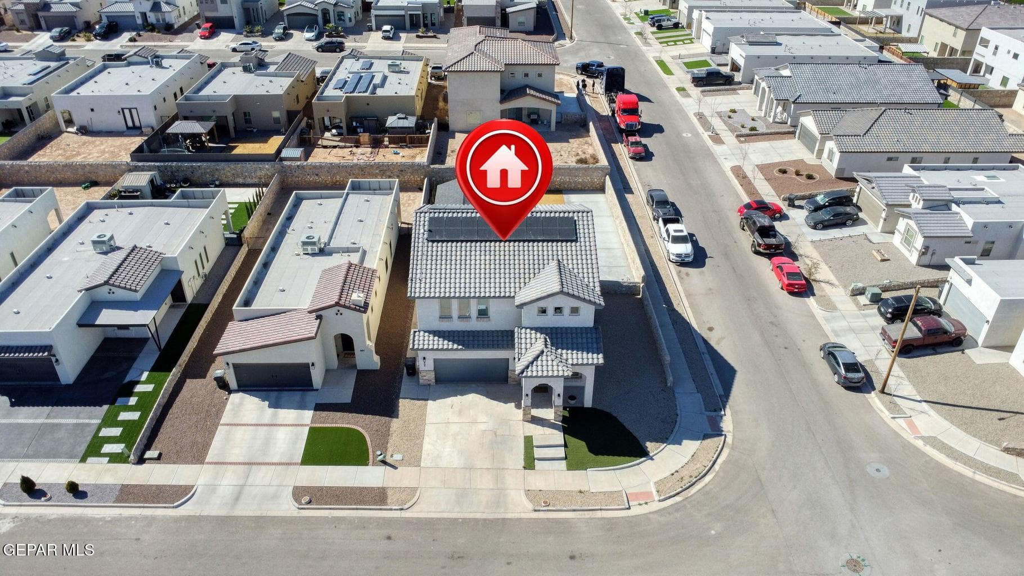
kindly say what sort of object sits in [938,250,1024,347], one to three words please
house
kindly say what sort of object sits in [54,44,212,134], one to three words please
house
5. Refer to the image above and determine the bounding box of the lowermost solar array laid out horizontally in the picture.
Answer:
[425,218,581,241]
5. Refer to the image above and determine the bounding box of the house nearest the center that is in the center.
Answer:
[407,203,610,406]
